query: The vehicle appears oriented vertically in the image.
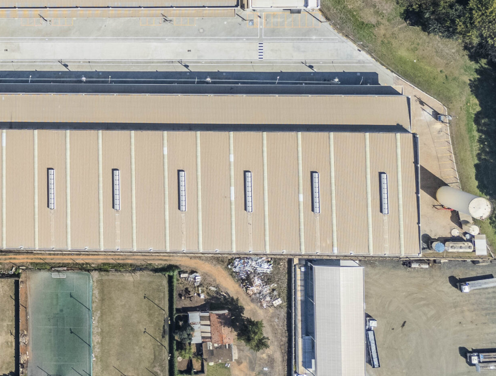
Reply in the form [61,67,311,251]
[365,316,379,368]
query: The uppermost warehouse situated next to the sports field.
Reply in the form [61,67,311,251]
[0,81,425,257]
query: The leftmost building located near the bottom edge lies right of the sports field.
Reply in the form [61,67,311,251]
[187,311,234,362]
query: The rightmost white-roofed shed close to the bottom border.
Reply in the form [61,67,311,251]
[304,258,366,376]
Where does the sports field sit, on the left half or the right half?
left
